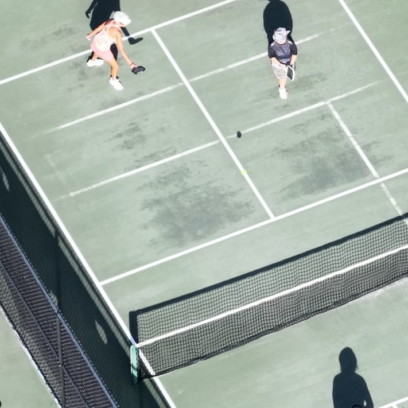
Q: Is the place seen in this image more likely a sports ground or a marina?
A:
sports ground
